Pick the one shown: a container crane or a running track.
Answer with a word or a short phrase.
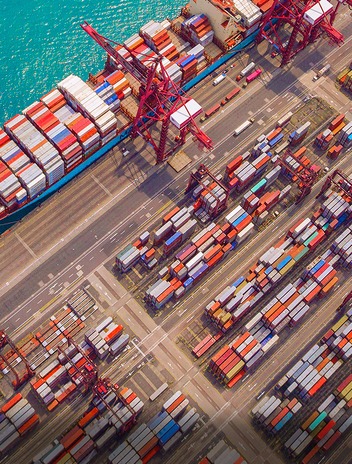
container crane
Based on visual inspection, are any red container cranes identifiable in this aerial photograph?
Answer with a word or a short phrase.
Yes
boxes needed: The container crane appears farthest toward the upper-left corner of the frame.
[79,24,218,166]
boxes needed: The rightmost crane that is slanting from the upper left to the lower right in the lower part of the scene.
[92,377,136,429]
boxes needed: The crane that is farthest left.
[0,331,35,383]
